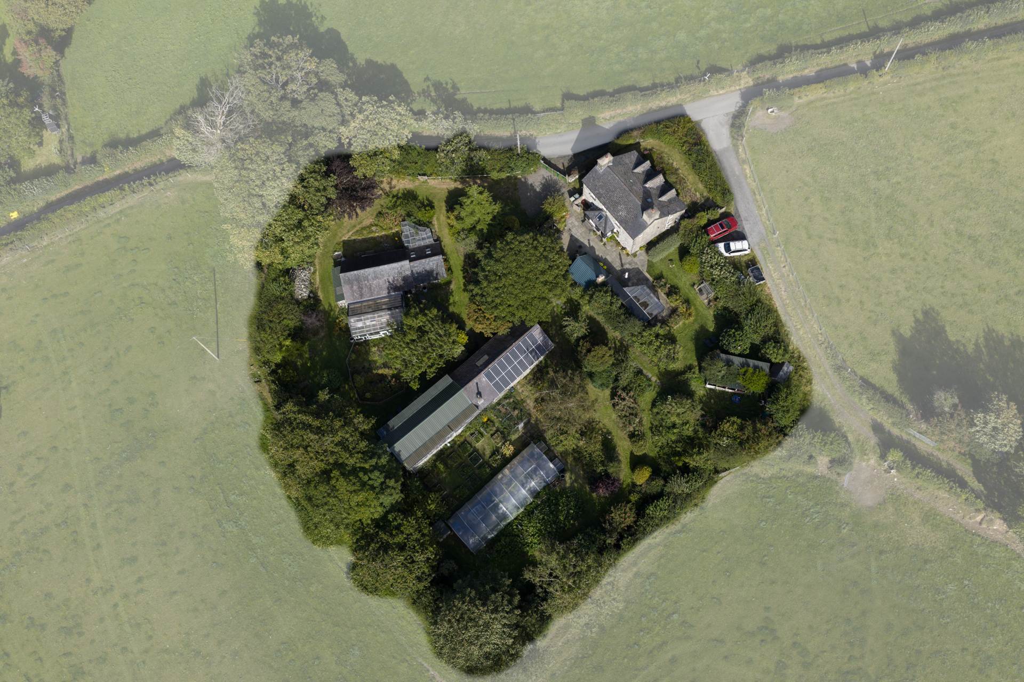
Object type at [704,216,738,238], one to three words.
car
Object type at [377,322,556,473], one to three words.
barn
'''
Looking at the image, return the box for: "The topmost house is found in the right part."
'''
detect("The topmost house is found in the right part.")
[581,150,687,254]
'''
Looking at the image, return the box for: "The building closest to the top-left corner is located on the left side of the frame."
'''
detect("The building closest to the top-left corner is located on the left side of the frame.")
[331,222,448,344]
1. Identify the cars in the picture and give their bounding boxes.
[716,239,751,257]
[704,216,738,238]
